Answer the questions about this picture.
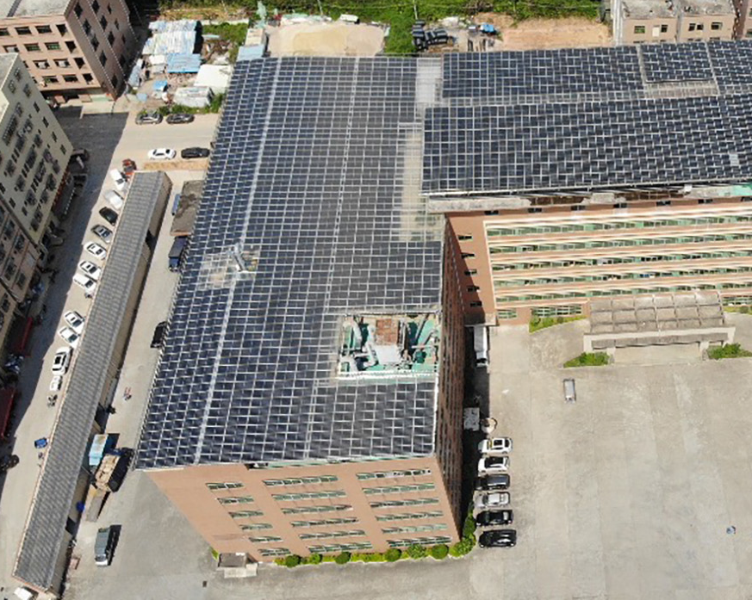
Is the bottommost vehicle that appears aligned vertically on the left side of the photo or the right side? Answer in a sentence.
The bottommost vehicle that appears aligned vertically is on the left side of the image.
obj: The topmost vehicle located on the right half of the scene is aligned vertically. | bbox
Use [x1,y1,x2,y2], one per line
[473,326,488,365]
